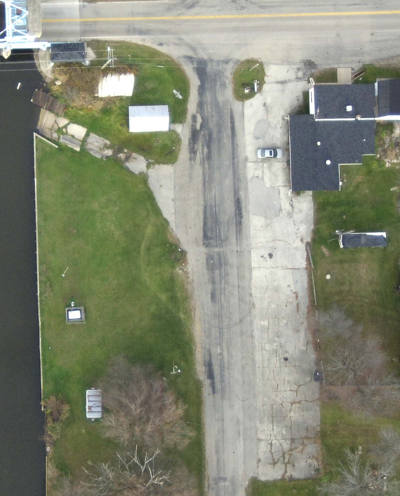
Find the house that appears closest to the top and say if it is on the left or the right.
left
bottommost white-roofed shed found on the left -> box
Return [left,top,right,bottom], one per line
[128,105,170,133]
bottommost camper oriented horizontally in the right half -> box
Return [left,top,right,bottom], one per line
[330,233,387,249]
